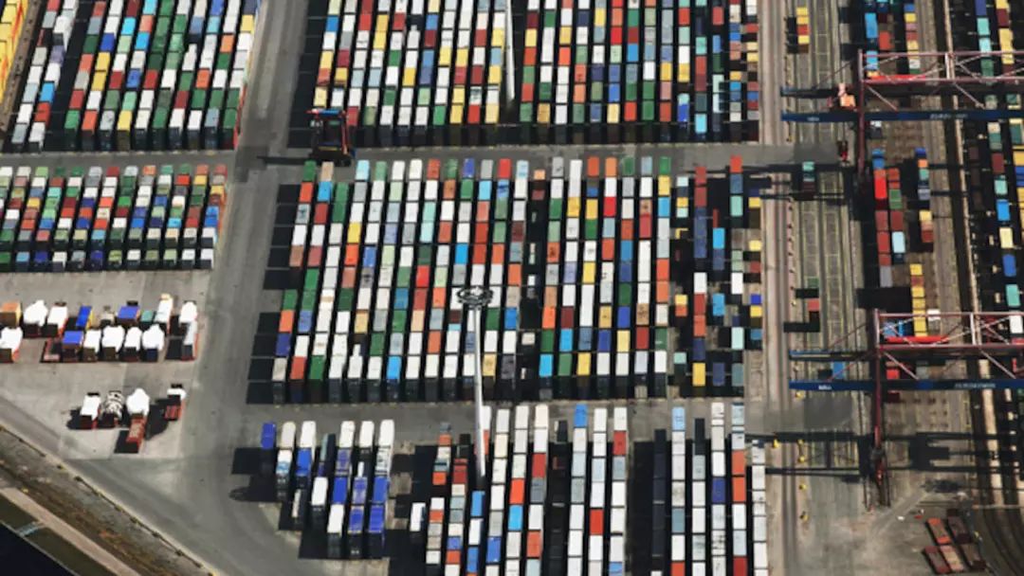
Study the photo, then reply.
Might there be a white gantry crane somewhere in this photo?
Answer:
No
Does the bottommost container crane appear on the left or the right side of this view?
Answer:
right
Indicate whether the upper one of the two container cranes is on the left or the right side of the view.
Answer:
right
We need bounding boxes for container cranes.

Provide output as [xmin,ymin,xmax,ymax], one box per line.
[789,310,1024,494]
[782,50,1024,214]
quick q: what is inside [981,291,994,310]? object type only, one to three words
rail car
